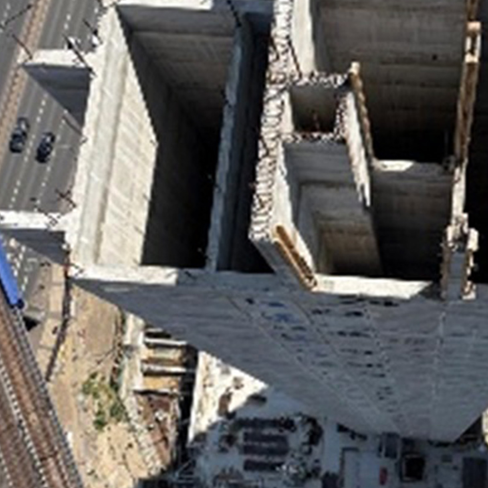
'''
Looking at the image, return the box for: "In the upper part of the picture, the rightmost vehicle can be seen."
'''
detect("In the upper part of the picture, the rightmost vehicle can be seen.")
[32,128,55,163]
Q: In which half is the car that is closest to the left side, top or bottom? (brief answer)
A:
top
